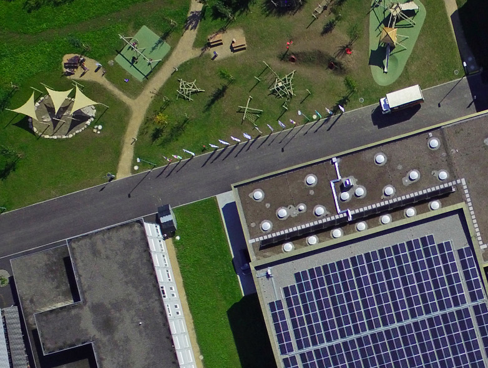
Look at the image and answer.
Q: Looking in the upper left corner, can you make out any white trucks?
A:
No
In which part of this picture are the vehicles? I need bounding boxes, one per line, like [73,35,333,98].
[236,250,253,277]
[378,84,426,114]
